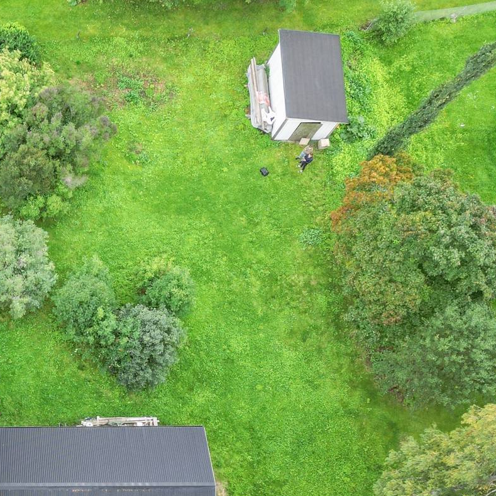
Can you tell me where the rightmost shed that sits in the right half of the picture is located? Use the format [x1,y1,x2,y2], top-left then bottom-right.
[270,27,352,141]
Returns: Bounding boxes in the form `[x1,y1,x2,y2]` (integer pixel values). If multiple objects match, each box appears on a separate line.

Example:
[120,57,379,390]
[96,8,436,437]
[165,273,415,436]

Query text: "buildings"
[0,424,217,496]
[270,27,352,141]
